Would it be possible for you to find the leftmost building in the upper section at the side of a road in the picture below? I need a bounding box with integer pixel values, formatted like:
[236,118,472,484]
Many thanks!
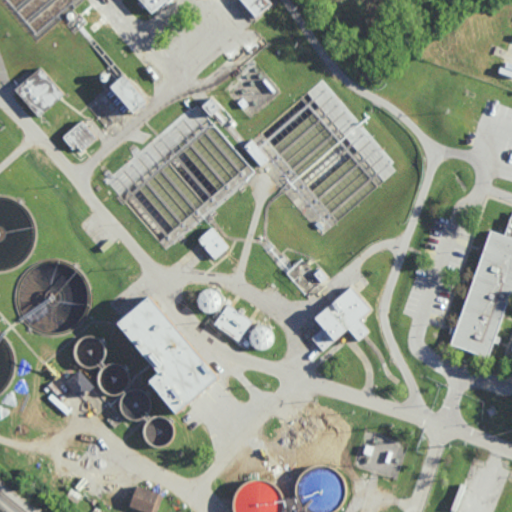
[15,68,64,118]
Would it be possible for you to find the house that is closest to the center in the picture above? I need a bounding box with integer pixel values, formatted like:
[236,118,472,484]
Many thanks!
[198,228,230,260]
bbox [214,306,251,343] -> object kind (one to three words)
house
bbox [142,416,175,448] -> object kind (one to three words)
storage tank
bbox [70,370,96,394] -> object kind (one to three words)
shed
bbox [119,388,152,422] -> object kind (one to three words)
storage tank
